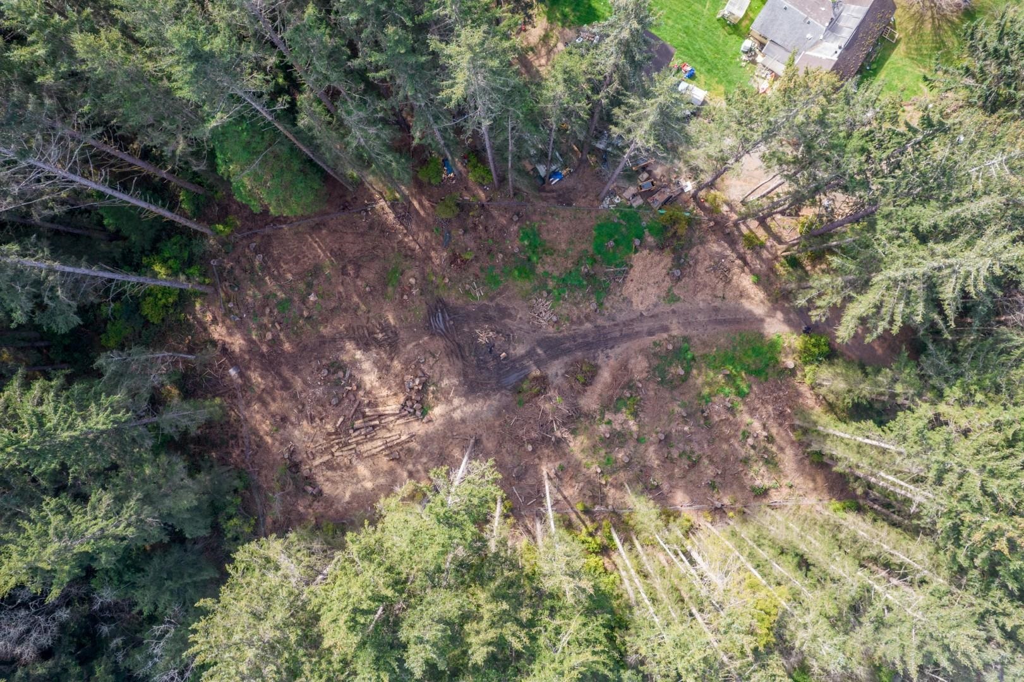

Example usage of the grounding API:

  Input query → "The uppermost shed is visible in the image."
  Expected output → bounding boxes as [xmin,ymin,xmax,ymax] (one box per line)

[724,0,760,32]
